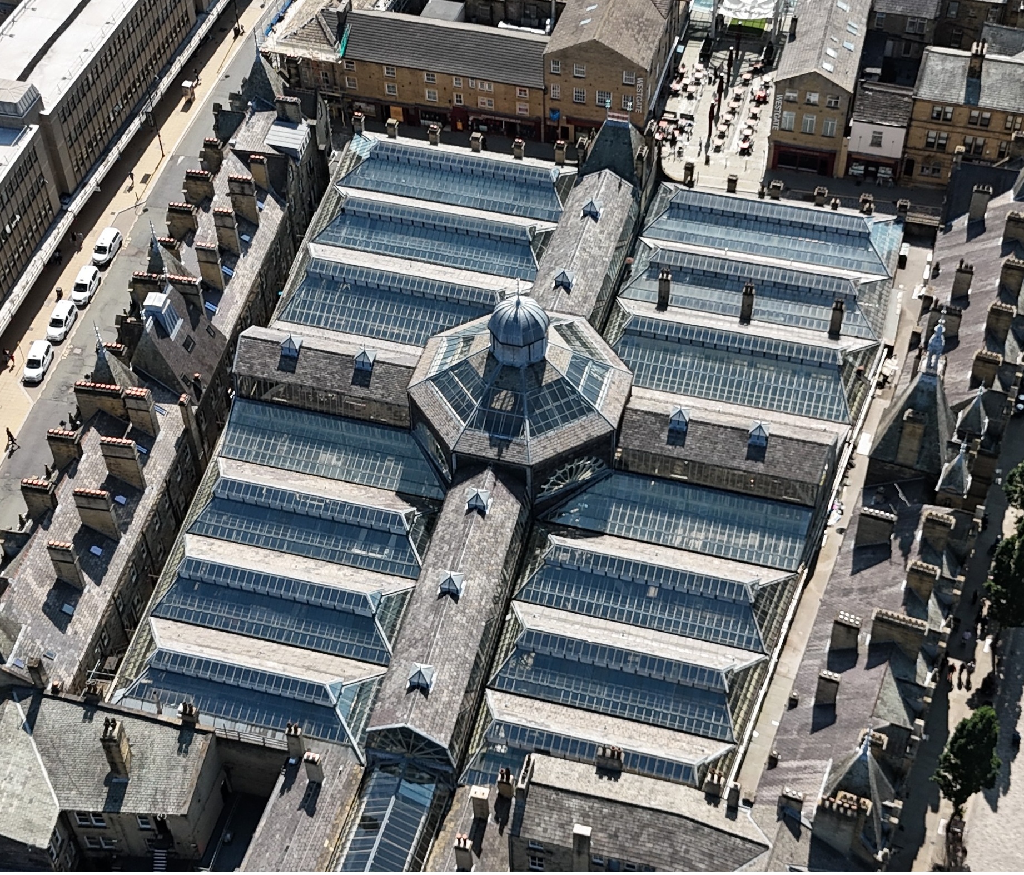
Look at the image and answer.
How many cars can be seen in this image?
4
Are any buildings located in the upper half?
Yes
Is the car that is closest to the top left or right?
left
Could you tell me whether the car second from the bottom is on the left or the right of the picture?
left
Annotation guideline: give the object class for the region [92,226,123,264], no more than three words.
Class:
car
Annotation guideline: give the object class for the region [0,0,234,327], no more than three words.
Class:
building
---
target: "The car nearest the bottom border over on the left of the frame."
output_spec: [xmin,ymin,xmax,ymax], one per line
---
[24,340,57,382]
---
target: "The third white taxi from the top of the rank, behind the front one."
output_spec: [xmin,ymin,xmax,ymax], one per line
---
[46,300,78,340]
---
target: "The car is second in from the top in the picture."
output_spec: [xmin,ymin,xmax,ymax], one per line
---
[71,265,102,304]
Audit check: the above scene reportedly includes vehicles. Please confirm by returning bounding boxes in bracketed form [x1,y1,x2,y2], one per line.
[24,340,57,382]
[46,300,78,340]
[71,265,102,304]
[92,226,123,264]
